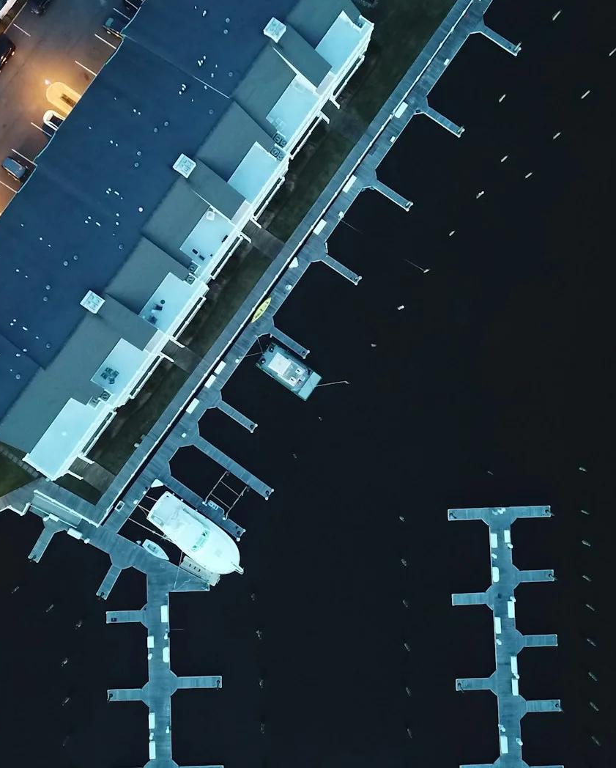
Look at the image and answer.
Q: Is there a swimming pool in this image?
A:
No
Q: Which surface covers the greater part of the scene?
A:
water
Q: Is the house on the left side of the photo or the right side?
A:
left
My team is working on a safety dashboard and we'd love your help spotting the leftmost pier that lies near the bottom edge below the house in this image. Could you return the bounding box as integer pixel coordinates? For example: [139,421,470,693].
[26,496,226,768]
